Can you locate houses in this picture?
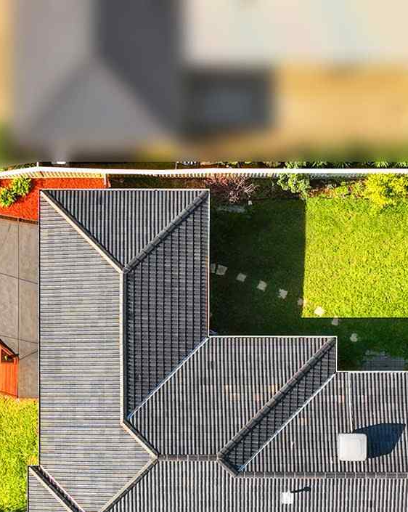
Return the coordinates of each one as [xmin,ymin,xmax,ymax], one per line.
[9,0,184,144]
[185,0,408,64]
[24,185,408,512]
